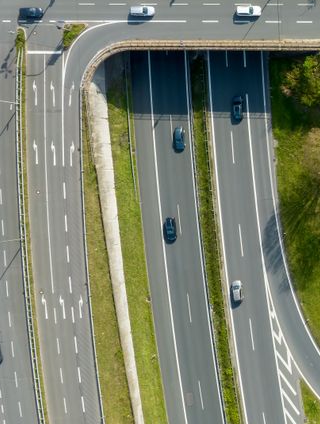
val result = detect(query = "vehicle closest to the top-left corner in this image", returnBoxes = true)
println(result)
[18,7,45,19]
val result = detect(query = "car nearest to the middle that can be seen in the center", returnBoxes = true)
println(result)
[164,217,176,241]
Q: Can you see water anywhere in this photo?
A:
No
